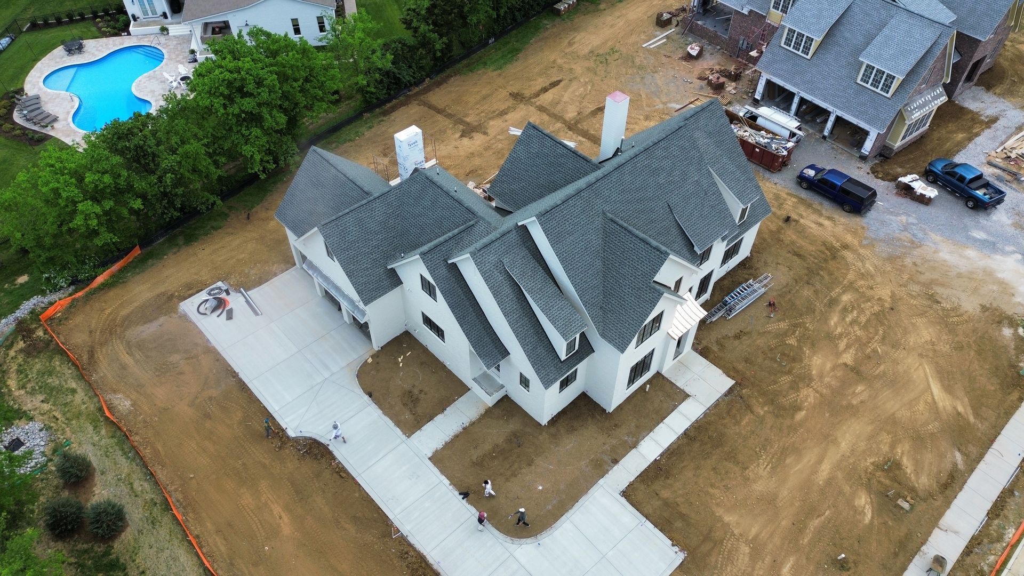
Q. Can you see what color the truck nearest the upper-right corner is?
blue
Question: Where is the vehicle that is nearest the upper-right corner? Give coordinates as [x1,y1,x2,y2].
[919,156,1013,207]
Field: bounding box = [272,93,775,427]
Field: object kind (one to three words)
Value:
house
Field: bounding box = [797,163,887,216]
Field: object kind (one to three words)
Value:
truck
